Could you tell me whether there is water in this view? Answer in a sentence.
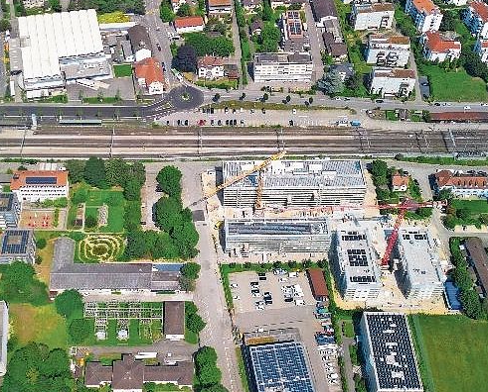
No, no water is visible.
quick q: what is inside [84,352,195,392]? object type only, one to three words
house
